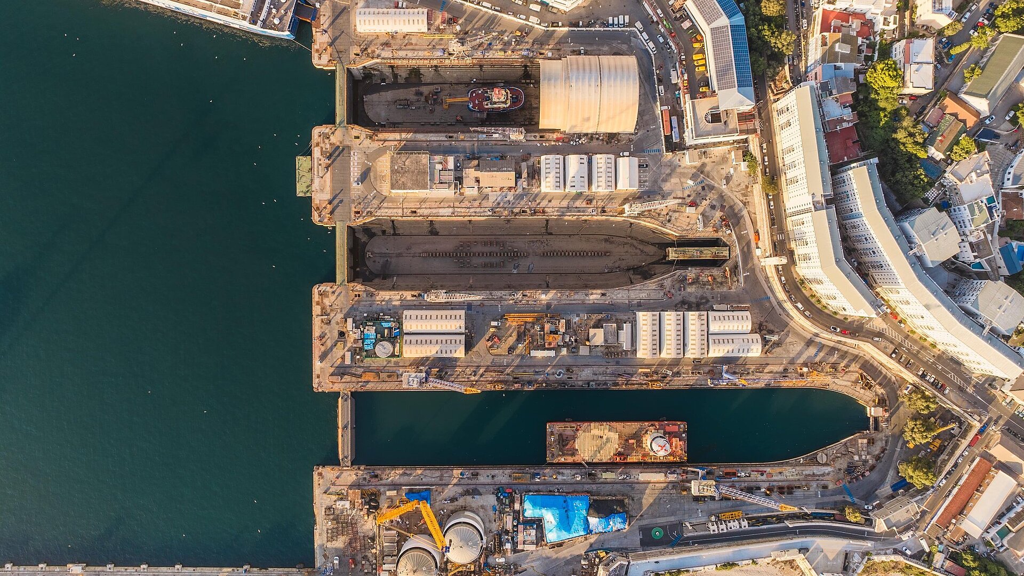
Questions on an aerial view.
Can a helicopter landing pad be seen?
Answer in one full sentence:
No, the picture doesn't show any helicopter landing pad.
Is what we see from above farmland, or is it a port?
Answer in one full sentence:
It's a port.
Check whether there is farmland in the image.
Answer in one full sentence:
No, farmland can't be seen anywhere here.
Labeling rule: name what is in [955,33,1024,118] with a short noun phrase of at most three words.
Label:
building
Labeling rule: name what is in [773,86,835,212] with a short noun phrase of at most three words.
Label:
building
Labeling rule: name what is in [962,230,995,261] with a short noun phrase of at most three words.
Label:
house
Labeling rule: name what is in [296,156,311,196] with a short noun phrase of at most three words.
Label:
pier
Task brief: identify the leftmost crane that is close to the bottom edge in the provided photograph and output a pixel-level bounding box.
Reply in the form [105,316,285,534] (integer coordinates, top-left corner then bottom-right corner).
[369,496,450,556]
